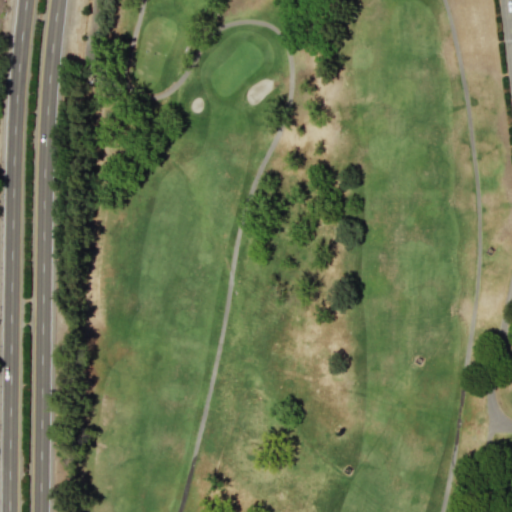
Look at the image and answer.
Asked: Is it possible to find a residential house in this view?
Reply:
No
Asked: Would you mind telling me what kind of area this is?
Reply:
golf course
